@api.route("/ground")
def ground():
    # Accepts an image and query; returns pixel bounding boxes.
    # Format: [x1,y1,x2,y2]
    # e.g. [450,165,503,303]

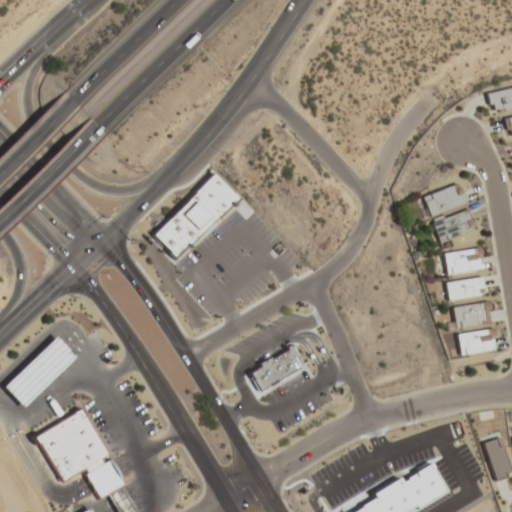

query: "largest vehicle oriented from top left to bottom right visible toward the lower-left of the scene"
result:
[49,397,64,418]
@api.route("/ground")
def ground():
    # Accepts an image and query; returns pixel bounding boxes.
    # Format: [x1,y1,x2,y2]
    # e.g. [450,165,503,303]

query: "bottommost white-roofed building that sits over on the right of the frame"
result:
[352,463,454,512]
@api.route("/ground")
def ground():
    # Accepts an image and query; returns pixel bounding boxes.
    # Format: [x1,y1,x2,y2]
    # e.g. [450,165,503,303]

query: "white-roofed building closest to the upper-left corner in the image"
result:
[154,174,240,261]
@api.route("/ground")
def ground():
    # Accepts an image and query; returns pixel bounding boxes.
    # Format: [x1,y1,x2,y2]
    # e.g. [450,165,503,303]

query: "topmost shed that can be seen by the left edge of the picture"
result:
[5,336,78,408]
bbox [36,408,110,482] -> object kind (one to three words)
building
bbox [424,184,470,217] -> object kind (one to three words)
house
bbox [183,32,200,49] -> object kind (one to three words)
vehicle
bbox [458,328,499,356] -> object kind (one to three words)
house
